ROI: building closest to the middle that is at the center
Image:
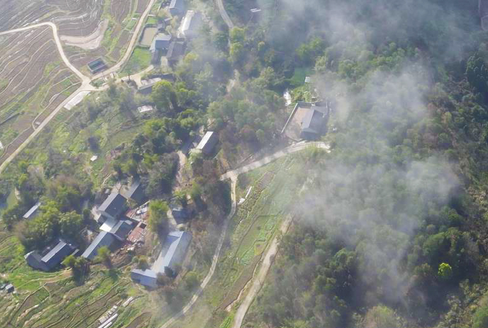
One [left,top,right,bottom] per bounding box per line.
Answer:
[195,133,221,162]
